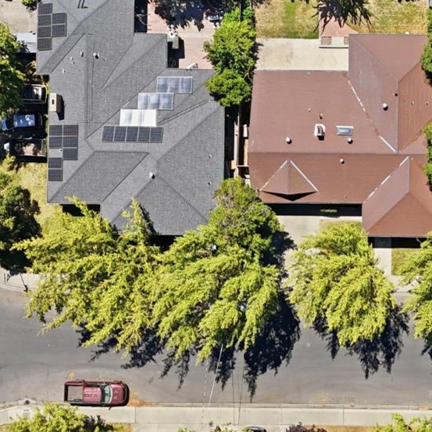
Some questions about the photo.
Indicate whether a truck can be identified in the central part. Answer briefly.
No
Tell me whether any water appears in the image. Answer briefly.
No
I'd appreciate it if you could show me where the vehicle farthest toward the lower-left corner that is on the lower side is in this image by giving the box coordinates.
[62,379,130,408]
